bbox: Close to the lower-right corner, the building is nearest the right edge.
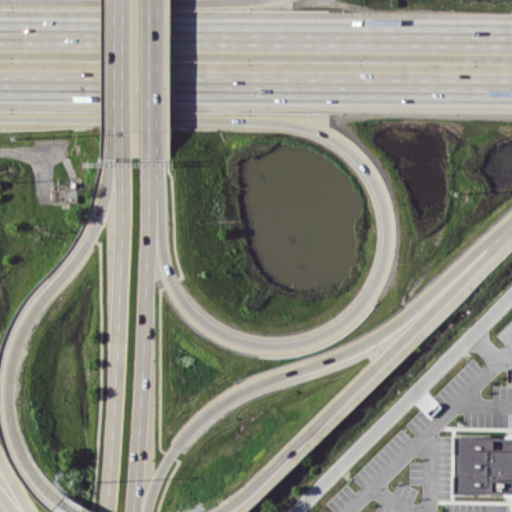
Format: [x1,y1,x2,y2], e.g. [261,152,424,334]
[455,434,512,500]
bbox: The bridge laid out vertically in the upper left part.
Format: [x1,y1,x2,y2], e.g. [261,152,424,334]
[101,0,170,159]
